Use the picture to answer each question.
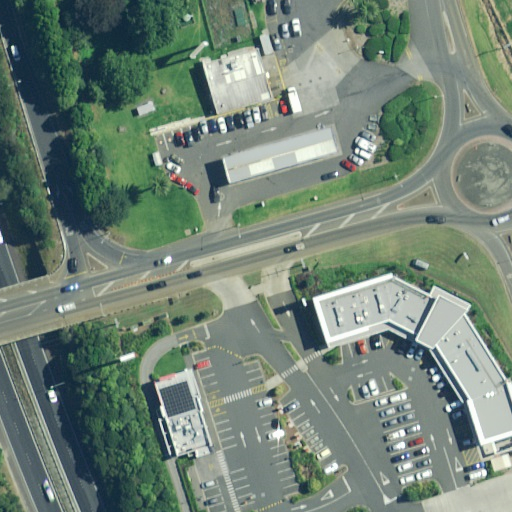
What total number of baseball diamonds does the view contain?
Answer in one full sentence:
Not a single baseball diamond can be seen.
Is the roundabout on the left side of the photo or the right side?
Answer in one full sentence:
The roundabout is on the right side of the image.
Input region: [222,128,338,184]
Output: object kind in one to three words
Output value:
shed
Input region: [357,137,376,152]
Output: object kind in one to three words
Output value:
vehicle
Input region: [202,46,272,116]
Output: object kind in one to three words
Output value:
building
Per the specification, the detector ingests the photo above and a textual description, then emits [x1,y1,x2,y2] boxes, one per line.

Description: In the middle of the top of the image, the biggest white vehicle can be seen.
[287,86,302,116]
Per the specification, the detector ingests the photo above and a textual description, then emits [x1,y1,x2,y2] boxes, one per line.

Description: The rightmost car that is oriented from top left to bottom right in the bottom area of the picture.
[392,340,404,356]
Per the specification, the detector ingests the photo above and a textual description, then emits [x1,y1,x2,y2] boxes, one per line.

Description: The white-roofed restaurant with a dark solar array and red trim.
[154,368,212,458]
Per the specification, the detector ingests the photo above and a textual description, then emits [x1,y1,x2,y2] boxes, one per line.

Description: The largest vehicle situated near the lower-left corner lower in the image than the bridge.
[43,479,56,501]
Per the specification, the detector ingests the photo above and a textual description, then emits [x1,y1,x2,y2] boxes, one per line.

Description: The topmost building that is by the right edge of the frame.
[313,273,512,460]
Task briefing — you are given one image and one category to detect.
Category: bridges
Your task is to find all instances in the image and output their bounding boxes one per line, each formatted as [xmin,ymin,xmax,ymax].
[0,272,62,346]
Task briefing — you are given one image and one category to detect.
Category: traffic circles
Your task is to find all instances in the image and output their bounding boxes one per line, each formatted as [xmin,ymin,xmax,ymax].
[432,118,512,232]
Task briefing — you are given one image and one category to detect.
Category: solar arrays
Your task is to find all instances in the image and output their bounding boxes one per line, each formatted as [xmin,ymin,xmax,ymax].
[160,382,194,418]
